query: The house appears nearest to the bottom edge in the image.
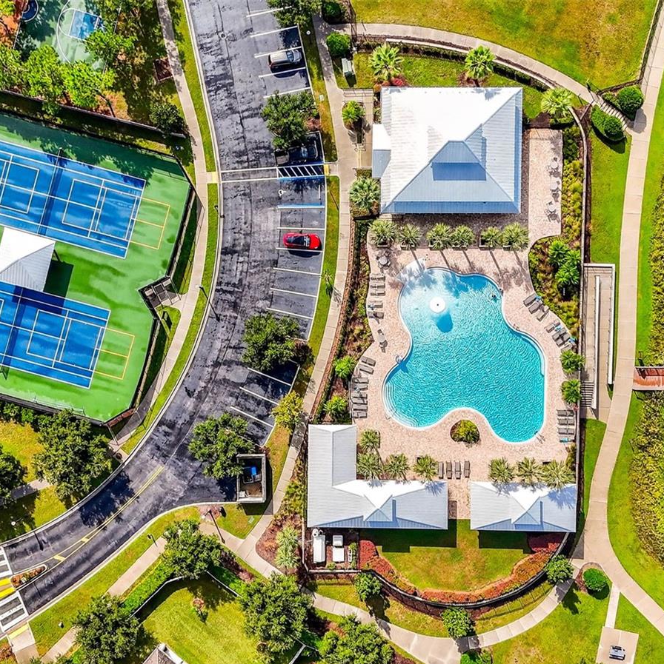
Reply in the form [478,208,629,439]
[143,642,192,664]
